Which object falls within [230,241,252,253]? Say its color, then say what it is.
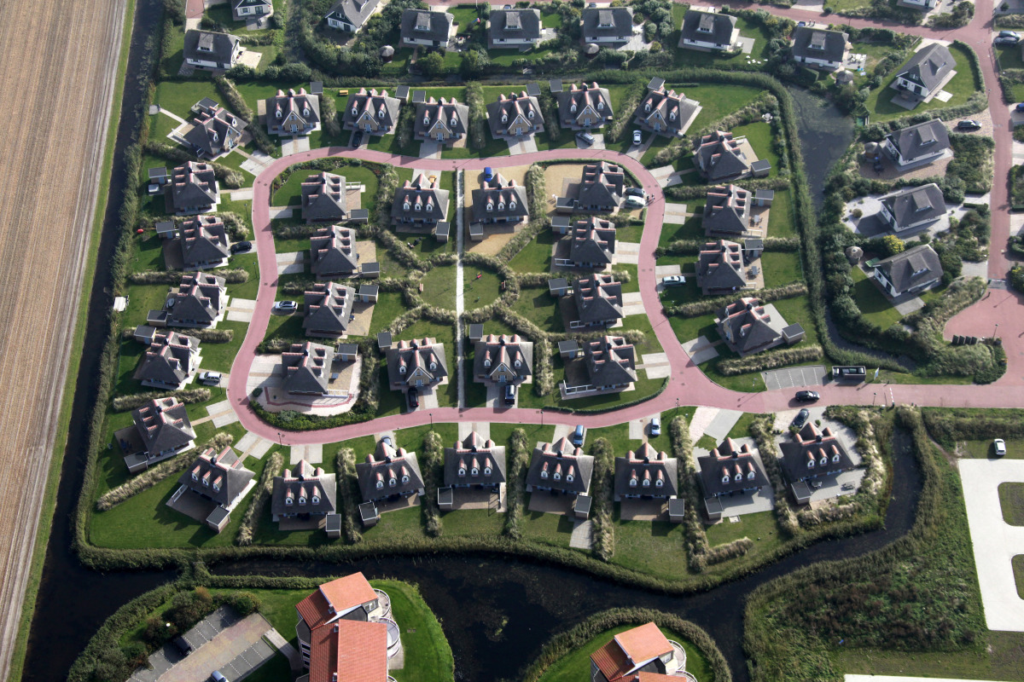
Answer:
black vehicle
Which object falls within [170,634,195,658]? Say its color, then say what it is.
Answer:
black car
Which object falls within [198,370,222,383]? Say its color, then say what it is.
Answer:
white vehicle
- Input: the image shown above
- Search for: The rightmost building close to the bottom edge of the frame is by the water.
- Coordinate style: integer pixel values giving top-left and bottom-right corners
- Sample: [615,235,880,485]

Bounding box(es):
[589,622,697,682]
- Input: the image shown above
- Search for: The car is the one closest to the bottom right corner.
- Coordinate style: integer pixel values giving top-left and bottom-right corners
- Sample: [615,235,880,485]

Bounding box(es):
[993,438,1008,458]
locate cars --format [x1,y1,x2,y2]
[792,409,807,429]
[1014,102,1024,111]
[632,131,641,144]
[573,425,584,446]
[993,438,1008,458]
[209,671,227,682]
[230,241,252,253]
[198,370,222,383]
[425,174,441,183]
[170,634,195,658]
[503,0,512,9]
[999,29,1020,39]
[995,35,1016,45]
[483,166,493,181]
[797,18,806,29]
[407,389,418,408]
[626,187,644,196]
[380,431,395,449]
[275,299,298,310]
[504,386,515,405]
[352,129,361,147]
[795,390,819,402]
[651,418,662,436]
[575,129,596,143]
[959,119,980,129]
